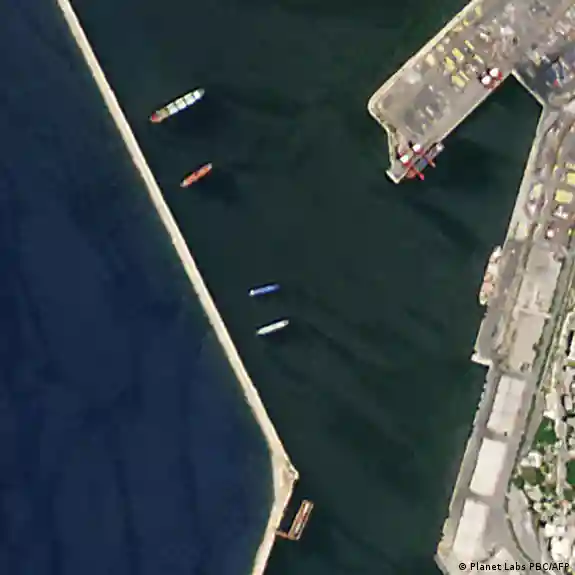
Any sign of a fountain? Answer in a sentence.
No, the frame has no fountain in it.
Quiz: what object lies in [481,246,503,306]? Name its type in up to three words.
ship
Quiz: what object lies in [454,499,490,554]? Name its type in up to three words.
building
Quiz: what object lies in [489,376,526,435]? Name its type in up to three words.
building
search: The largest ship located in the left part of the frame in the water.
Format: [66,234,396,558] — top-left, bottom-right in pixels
[149,90,205,122]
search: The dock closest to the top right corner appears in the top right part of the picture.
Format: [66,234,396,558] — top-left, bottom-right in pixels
[366,15,510,184]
